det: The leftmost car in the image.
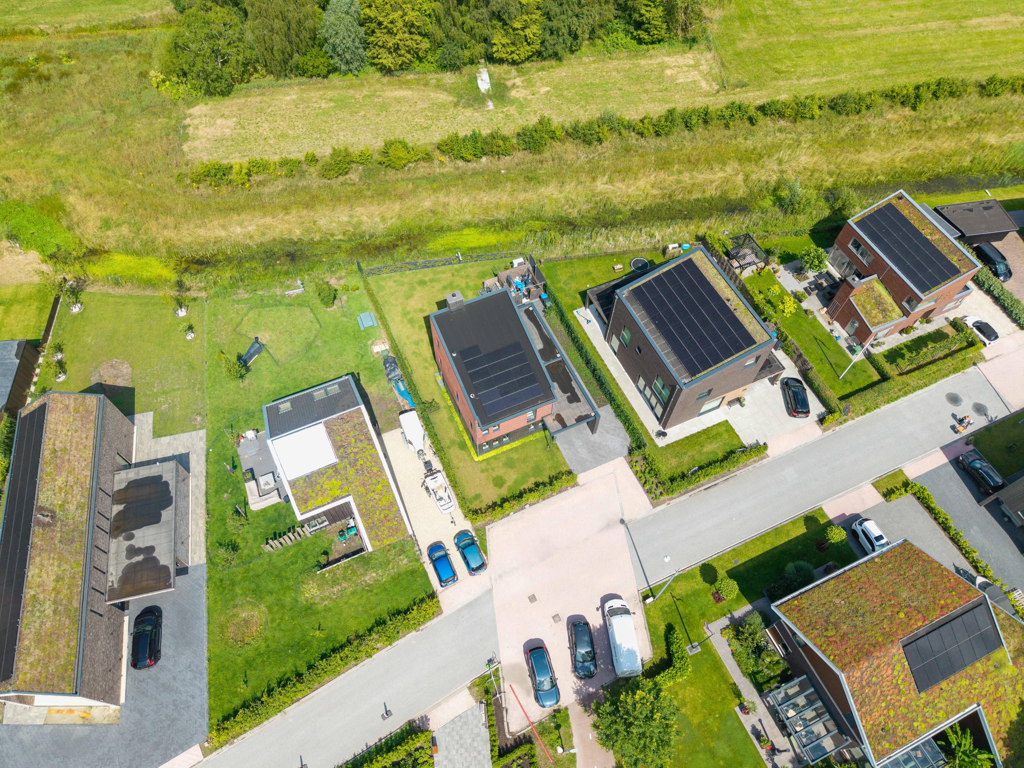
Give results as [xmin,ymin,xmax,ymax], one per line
[126,609,162,674]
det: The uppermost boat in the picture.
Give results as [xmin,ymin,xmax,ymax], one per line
[425,465,456,517]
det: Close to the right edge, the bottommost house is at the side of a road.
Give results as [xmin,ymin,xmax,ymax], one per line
[759,538,1024,768]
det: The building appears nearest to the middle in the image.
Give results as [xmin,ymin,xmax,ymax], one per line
[430,290,600,456]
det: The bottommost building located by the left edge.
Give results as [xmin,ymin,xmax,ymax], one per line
[0,393,193,729]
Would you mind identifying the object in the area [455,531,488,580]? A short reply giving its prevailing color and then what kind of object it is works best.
blue car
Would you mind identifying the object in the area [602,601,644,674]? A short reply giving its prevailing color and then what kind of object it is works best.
white van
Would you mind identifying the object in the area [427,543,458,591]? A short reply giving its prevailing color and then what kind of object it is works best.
blue car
